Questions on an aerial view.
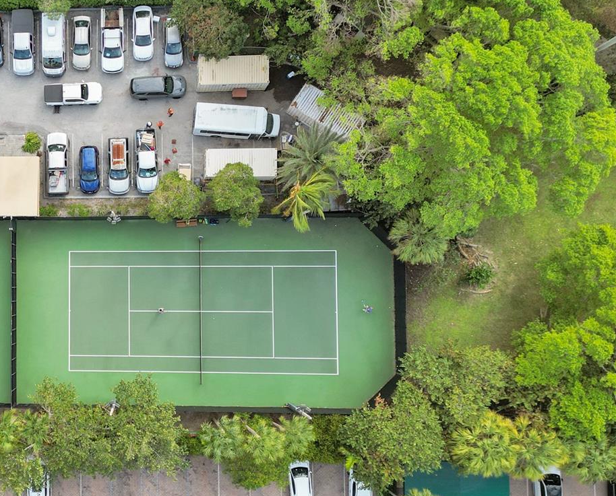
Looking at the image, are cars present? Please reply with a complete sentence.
Yes, the frame does contain a car.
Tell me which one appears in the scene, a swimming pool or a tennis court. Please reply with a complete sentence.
Of the two, only a tennis court appears.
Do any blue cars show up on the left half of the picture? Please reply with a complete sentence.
Yes, there is a blue car on the left half of the picture.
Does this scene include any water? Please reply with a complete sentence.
No, no water is visible.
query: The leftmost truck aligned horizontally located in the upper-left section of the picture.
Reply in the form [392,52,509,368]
[44,78,102,106]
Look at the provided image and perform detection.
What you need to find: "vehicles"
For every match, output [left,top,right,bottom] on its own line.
[346,462,372,496]
[44,133,71,196]
[131,11,156,62]
[9,7,37,78]
[40,8,67,80]
[191,102,281,138]
[106,138,133,196]
[135,127,161,194]
[289,456,315,496]
[44,78,102,106]
[69,17,94,73]
[532,467,565,496]
[161,19,186,71]
[29,457,53,496]
[77,145,102,195]
[131,73,186,100]
[99,6,126,75]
